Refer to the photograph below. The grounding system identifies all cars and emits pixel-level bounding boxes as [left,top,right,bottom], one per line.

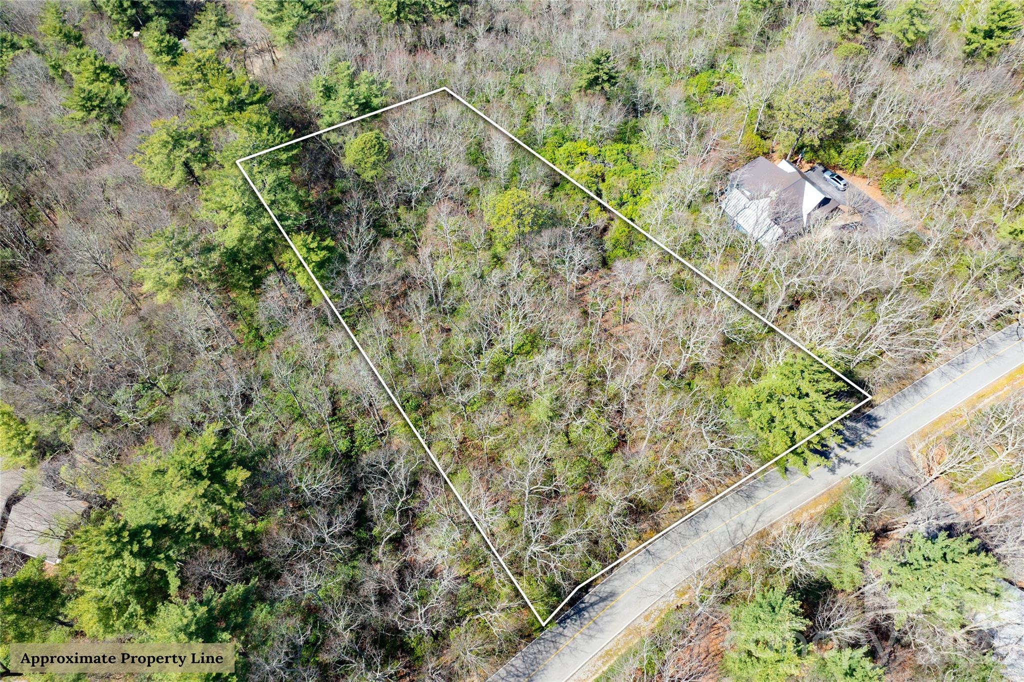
[822,171,851,192]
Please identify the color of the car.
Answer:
white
